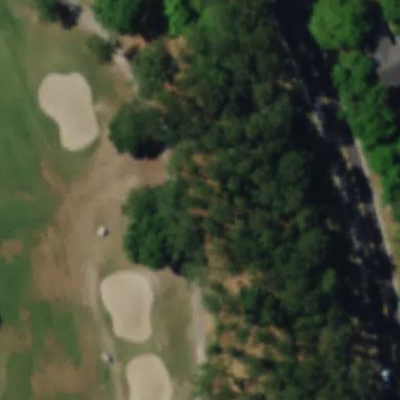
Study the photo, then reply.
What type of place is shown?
golf course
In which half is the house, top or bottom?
top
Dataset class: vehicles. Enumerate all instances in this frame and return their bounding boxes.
[380,365,392,386]
[96,226,107,235]
[100,352,112,363]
